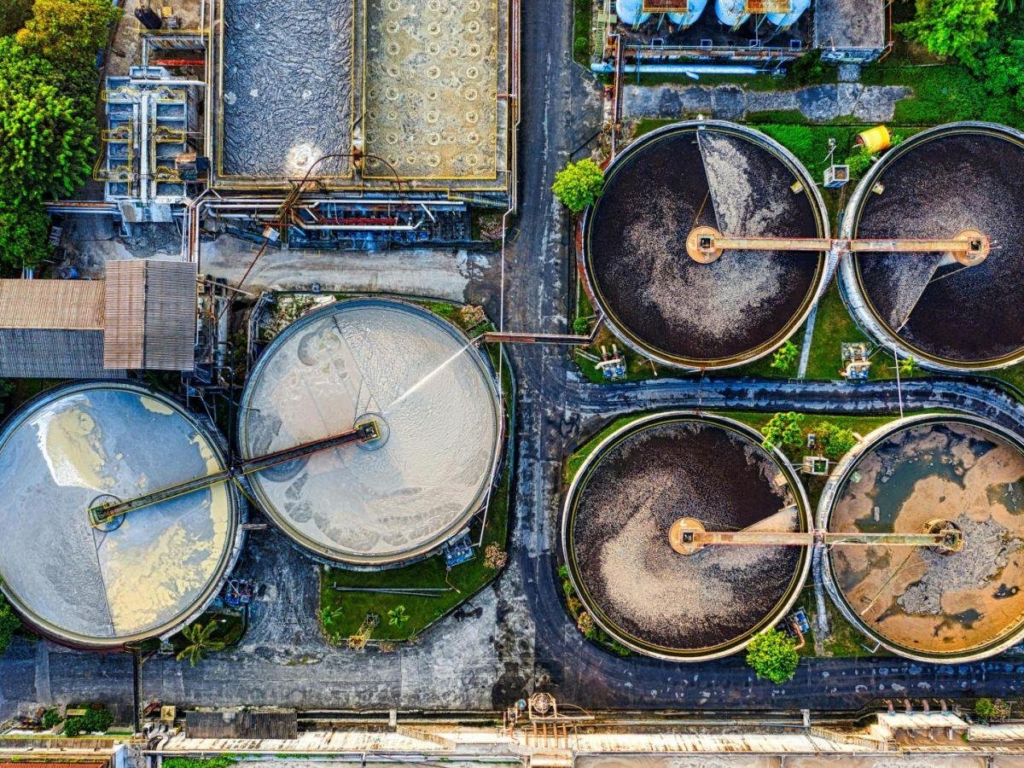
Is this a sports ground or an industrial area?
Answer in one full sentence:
It's an industrial area.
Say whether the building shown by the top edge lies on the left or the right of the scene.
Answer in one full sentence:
It is on the right.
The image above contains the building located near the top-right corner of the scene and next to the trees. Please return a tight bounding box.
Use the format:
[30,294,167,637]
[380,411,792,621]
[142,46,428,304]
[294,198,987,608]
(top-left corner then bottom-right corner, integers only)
[805,0,885,69]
